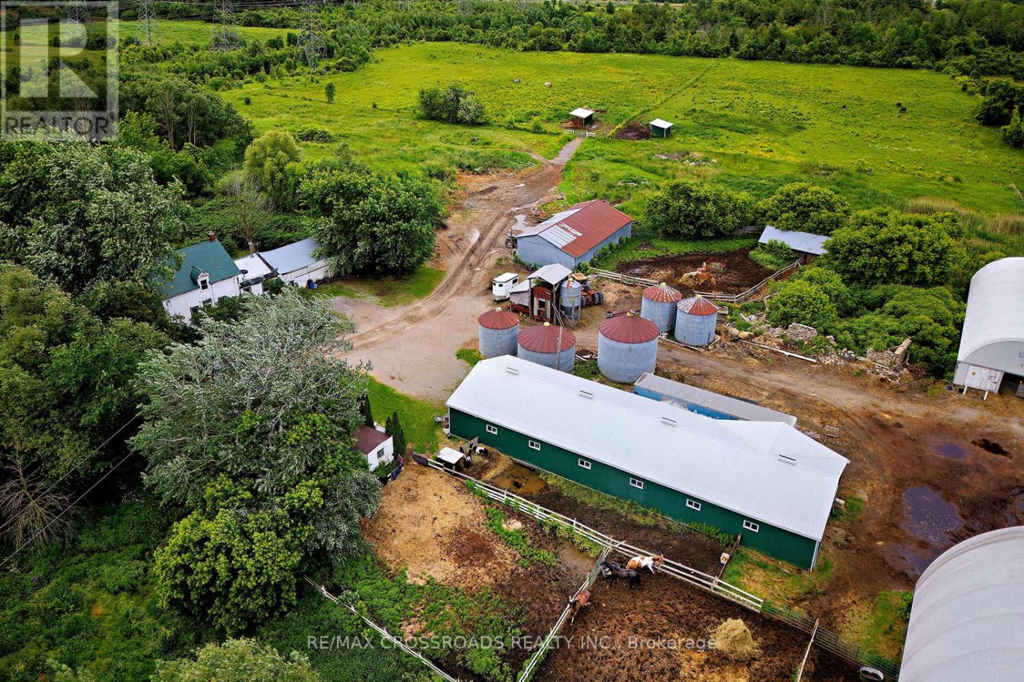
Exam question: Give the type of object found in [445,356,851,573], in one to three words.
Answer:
barn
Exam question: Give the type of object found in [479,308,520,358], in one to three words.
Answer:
silo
